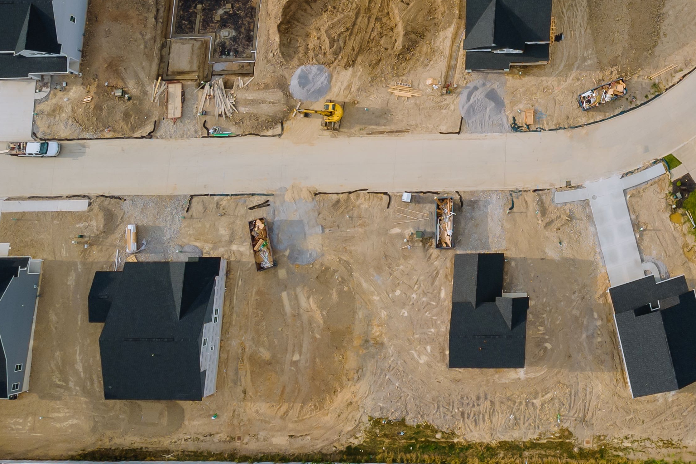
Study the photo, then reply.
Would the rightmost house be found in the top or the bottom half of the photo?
bottom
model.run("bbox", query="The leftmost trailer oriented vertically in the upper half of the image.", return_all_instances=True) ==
[161,78,185,125]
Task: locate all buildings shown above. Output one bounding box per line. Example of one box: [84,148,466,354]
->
[608,275,696,398]
[85,257,232,401]
[449,253,529,368]
[0,0,88,80]
[0,257,43,398]
[463,0,553,72]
